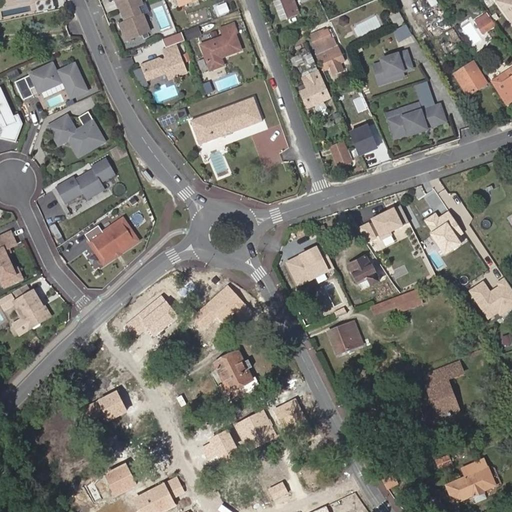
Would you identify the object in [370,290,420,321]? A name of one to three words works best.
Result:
shed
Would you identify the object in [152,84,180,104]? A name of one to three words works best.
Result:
swimming pool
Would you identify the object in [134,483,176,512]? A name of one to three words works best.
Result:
house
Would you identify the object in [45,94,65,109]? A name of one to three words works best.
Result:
swimming pool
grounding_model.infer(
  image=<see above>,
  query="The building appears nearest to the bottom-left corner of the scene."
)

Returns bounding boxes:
[105,463,139,496]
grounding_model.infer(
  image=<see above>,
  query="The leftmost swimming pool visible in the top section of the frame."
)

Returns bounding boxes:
[2,5,32,18]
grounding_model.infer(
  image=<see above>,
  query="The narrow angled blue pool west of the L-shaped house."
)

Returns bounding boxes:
[430,248,446,270]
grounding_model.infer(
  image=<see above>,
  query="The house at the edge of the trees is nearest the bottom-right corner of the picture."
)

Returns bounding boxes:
[446,458,496,505]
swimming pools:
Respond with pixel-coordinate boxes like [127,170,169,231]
[214,74,240,94]
[152,84,180,104]
[131,212,145,226]
[152,4,172,30]
[208,148,231,178]
[45,94,65,109]
[2,5,32,18]
[430,248,446,270]
[323,283,338,299]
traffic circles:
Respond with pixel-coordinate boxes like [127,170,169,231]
[166,186,275,277]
